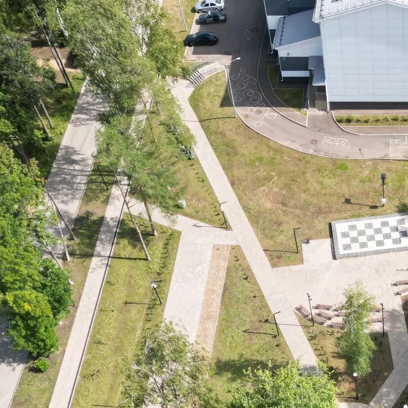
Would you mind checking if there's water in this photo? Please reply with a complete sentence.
No, there is no water in the image.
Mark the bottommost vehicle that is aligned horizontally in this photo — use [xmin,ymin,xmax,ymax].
[183,30,220,48]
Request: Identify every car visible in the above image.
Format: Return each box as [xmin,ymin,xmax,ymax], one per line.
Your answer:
[196,9,228,25]
[194,0,226,14]
[183,30,220,48]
